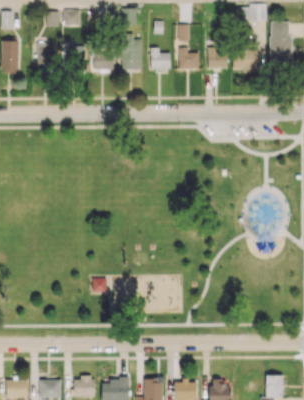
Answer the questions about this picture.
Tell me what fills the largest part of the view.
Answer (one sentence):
Most of the picture is covered by grass.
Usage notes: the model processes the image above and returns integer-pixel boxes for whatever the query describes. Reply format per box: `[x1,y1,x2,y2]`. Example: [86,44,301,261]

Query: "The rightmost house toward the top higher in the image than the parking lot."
[270,22,290,58]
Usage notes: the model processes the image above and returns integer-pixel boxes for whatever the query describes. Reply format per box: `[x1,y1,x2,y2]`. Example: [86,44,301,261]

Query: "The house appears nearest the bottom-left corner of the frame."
[6,380,28,400]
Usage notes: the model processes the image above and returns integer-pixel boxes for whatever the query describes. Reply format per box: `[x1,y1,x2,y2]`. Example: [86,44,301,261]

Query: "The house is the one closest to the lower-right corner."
[266,375,284,400]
